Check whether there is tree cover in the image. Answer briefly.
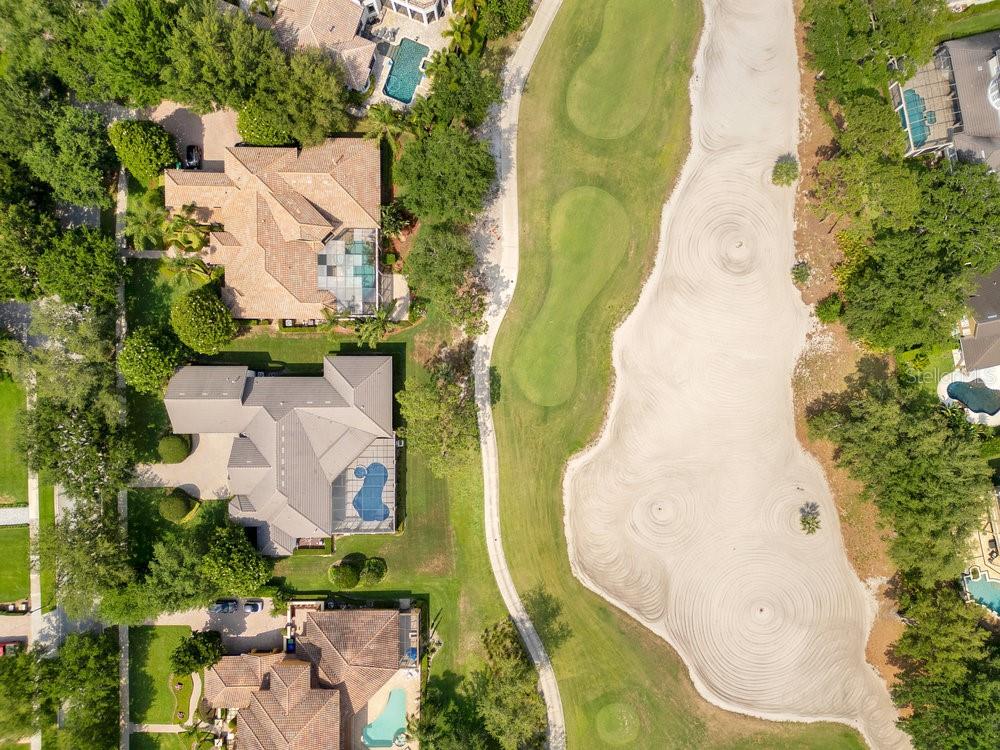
Yes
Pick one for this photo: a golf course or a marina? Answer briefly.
golf course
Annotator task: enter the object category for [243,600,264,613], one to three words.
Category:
vehicle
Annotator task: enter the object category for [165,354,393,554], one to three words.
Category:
house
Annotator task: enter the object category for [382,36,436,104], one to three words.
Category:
swimming pool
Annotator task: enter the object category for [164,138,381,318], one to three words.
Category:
house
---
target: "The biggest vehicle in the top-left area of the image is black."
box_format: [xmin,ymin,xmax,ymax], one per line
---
[188,145,202,171]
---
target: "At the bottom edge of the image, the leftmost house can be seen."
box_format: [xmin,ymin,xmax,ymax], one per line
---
[204,607,399,750]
